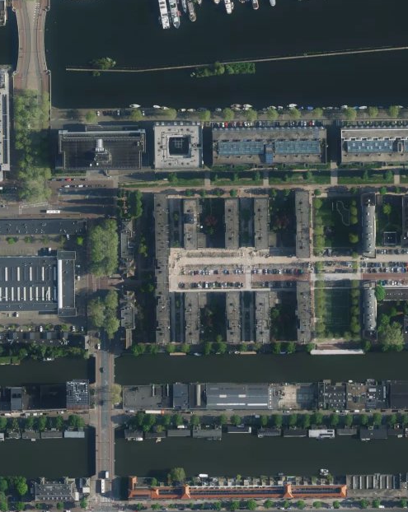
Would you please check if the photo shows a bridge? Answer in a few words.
Yes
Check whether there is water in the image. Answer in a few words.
Yes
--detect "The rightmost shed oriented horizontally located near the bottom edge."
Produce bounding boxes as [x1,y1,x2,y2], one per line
[347,474,406,498]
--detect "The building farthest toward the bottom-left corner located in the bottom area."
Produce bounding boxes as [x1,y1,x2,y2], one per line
[31,477,79,502]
